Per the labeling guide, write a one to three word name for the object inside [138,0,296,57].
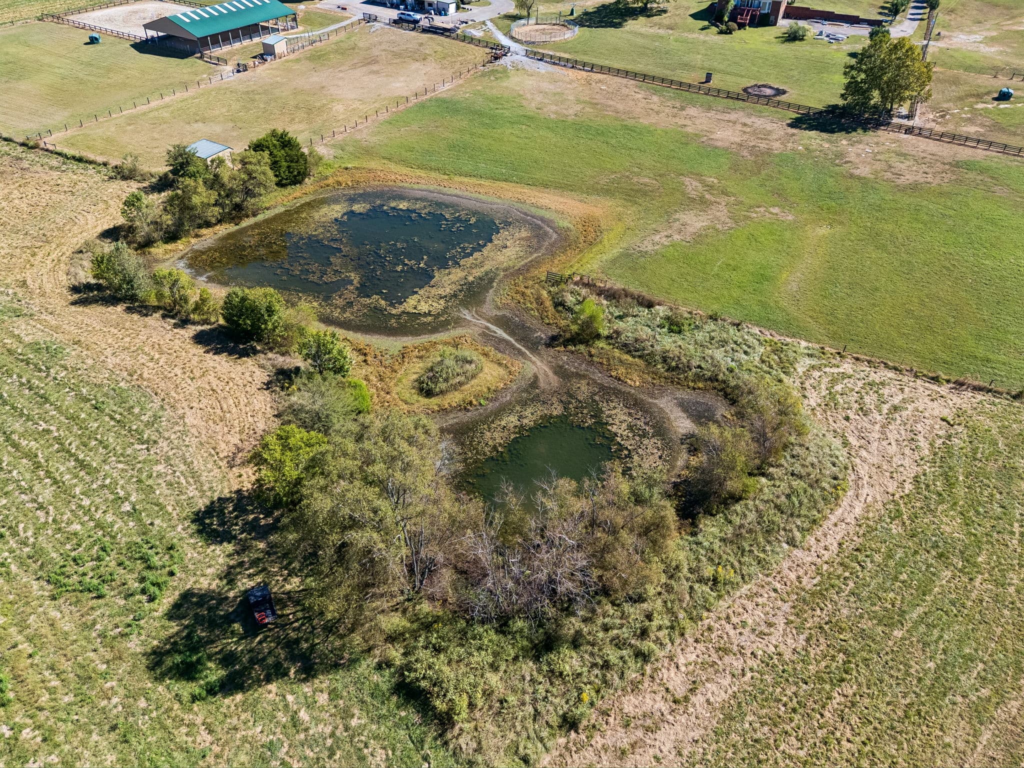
barn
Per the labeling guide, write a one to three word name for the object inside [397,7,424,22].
vehicle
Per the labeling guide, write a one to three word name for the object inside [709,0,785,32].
house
